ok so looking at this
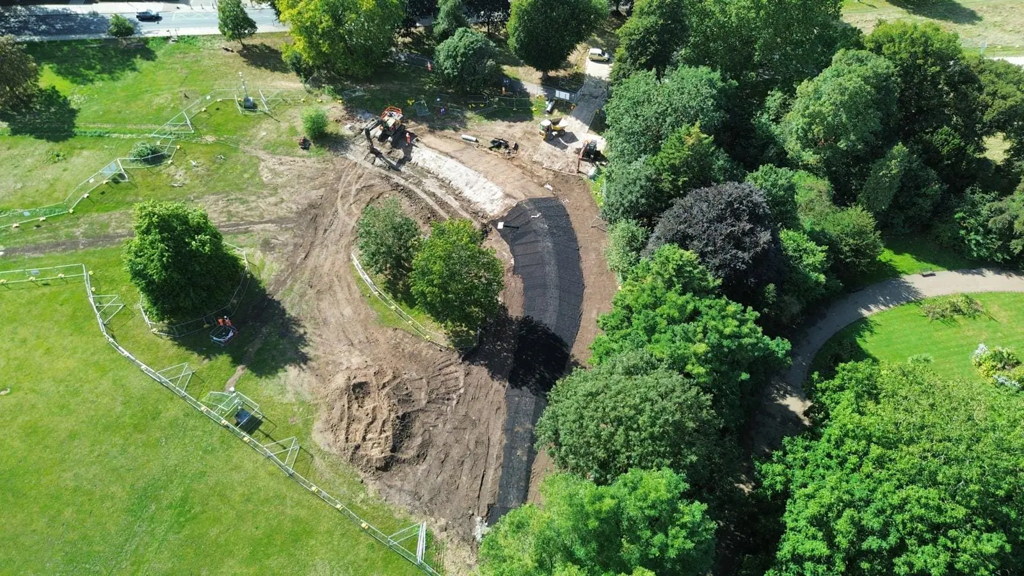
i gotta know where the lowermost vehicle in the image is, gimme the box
[581,147,603,167]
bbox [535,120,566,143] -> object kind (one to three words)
truck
